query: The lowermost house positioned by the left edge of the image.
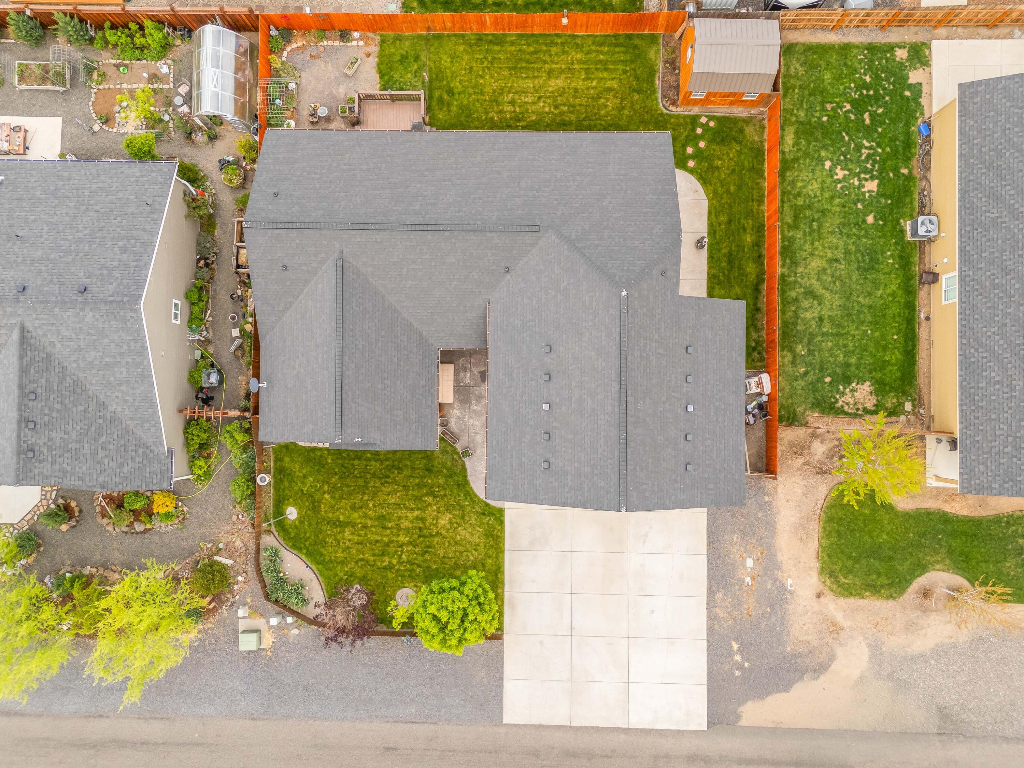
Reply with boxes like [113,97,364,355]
[0,155,198,491]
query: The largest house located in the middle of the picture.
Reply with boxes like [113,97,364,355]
[240,128,746,513]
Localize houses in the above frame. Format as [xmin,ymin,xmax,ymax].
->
[240,128,746,513]
[927,74,1024,497]
[0,155,198,491]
